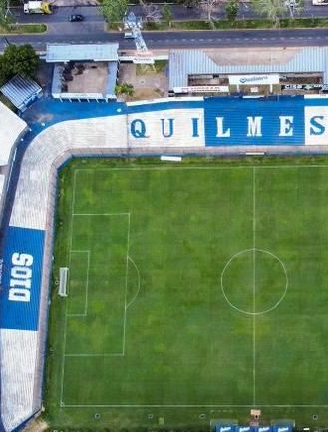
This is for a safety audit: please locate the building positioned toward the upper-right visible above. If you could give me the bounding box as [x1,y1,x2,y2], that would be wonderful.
[170,46,328,97]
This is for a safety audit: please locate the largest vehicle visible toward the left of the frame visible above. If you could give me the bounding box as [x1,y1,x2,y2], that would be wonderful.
[23,1,52,14]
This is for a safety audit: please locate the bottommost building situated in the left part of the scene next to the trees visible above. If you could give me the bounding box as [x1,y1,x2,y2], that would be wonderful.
[46,43,123,104]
